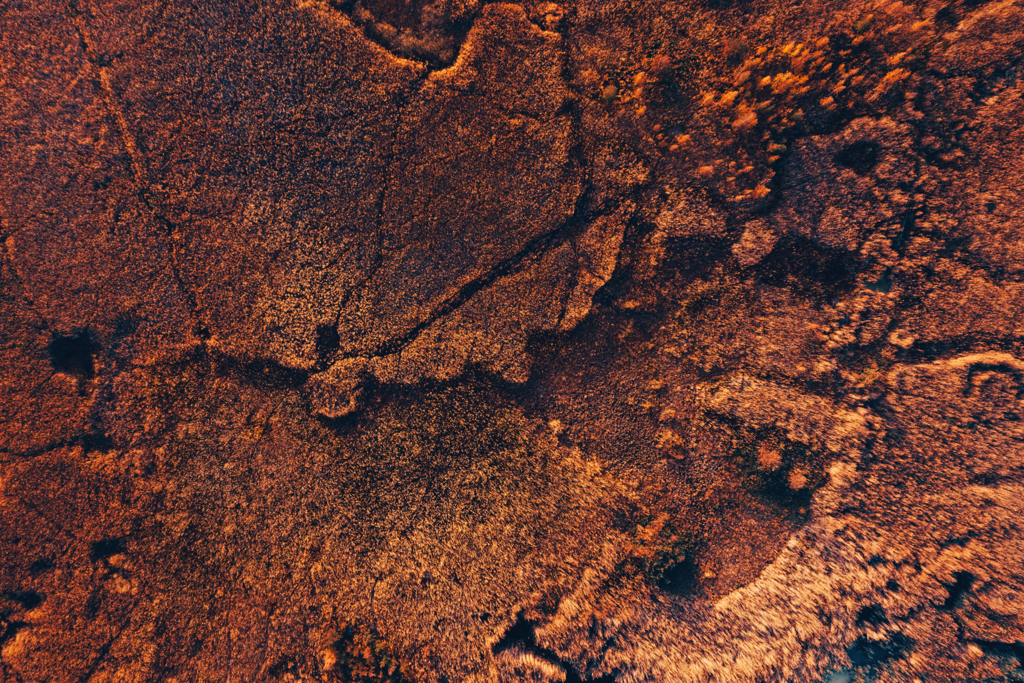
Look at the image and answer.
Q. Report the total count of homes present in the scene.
none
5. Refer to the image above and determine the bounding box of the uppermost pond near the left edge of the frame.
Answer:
[46,327,100,375]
